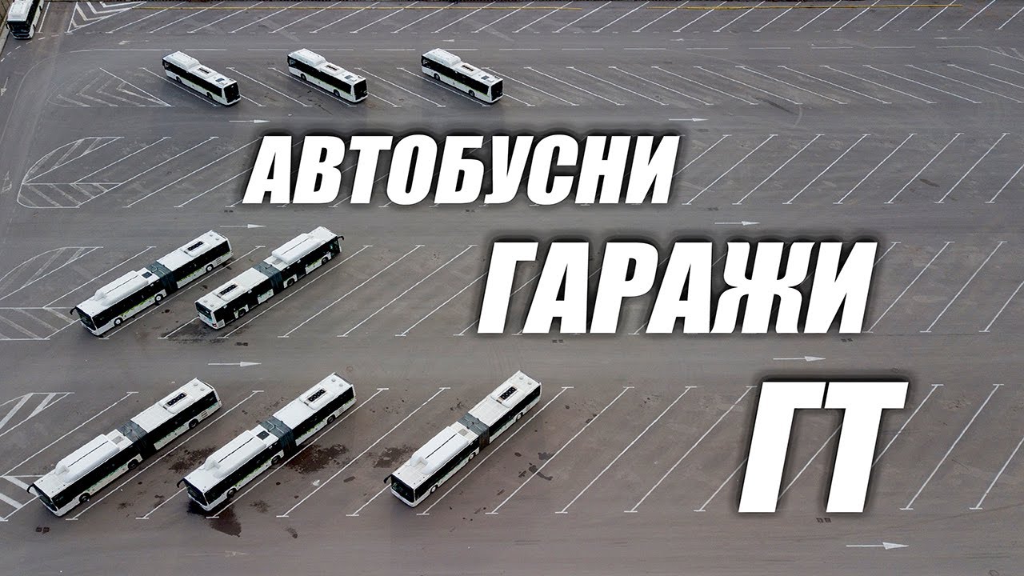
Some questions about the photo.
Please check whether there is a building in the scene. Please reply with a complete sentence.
No, the photo shows no building.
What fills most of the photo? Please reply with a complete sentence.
Most of the picture is covered by paved ground.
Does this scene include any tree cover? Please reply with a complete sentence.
No, there's no tree cover in this view.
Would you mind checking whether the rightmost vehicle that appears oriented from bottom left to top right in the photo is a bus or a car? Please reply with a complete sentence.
The rightmost vehicle that appears oriented from bottom left to top right is a bus.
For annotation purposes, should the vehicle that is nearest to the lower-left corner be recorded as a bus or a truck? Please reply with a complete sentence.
The vehicle that is nearest to the lower-left corner is a bus.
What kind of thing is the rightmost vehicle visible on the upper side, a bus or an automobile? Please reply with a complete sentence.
Specifically, the rightmost vehicle visible on the upper side is a bus.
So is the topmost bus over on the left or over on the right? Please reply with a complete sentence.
The topmost bus sits on the left side.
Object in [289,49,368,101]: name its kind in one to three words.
bus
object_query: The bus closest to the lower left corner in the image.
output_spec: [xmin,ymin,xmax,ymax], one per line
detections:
[27,378,217,515]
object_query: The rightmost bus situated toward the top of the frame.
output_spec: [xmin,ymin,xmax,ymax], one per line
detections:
[423,50,503,102]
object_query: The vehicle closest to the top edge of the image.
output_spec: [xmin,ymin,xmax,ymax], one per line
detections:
[5,0,44,38]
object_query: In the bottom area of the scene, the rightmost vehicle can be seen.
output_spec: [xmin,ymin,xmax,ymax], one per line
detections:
[384,371,540,506]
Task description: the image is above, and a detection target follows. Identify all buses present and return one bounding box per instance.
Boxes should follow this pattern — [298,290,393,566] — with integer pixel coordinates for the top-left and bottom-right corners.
[384,371,540,506]
[71,231,231,334]
[5,0,44,38]
[289,49,368,101]
[27,378,217,515]
[178,373,354,508]
[165,52,240,104]
[198,227,344,330]
[423,50,503,102]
